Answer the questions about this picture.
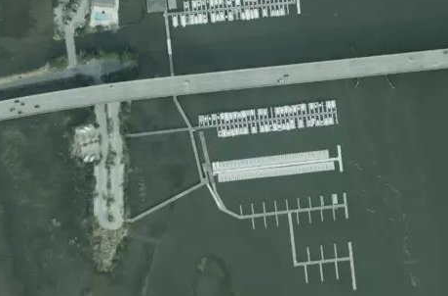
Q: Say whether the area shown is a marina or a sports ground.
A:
marina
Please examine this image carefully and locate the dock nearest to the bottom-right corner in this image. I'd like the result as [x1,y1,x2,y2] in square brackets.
[297,242,356,290]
